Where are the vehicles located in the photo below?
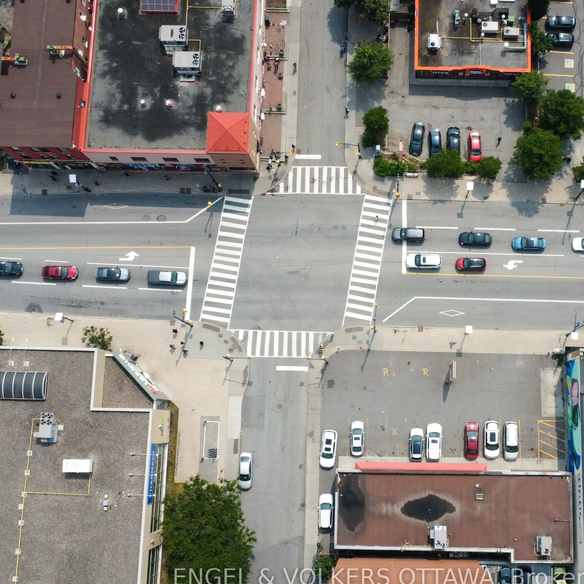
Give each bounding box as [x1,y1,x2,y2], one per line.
[409,120,427,156]
[545,13,577,30]
[40,264,80,280]
[483,420,502,459]
[428,127,442,156]
[406,252,442,269]
[426,422,443,461]
[0,259,24,276]
[349,421,365,457]
[455,255,486,270]
[319,429,338,469]
[571,237,584,252]
[445,125,462,156]
[464,422,481,459]
[519,566,533,584]
[549,30,575,47]
[553,566,570,584]
[459,230,493,246]
[238,452,254,490]
[93,266,132,281]
[512,235,546,250]
[469,131,483,163]
[499,566,515,584]
[503,421,521,461]
[392,226,426,242]
[408,428,426,461]
[317,493,334,531]
[145,269,188,286]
